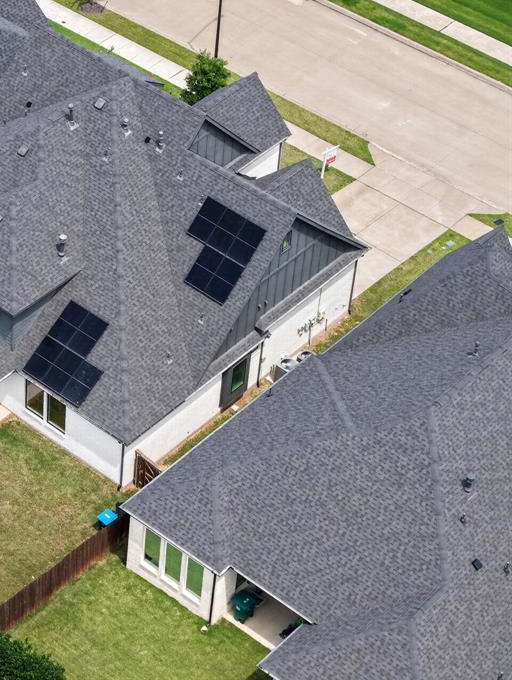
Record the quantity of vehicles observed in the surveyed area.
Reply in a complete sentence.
Not a single vehicle can be seen.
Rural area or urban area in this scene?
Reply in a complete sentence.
This place is urban.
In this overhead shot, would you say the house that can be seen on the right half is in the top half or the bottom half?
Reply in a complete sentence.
Seen from above, the house that can be seen on the right half lies in the bottom half of the view.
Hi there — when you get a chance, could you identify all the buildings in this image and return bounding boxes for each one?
[0,23,369,492]
[119,225,512,680]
